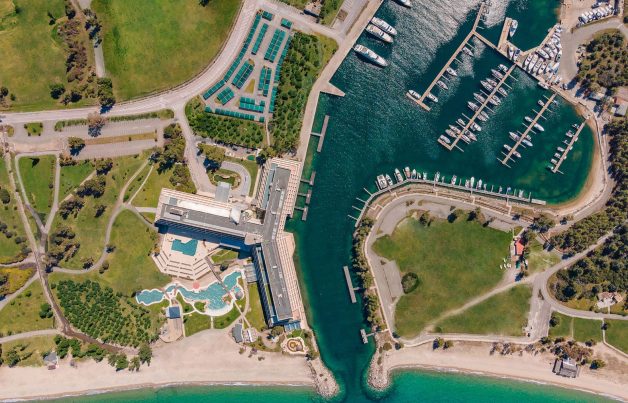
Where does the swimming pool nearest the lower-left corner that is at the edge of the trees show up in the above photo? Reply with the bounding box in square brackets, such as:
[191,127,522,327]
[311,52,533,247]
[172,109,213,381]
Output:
[136,289,164,305]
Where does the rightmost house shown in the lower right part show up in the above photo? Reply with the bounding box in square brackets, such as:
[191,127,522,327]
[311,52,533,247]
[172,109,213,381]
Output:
[596,292,623,308]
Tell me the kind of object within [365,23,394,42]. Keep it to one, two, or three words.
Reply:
boat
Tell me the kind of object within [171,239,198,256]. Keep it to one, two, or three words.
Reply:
swimming pool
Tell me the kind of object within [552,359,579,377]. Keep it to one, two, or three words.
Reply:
building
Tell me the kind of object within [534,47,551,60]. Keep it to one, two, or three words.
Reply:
boat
